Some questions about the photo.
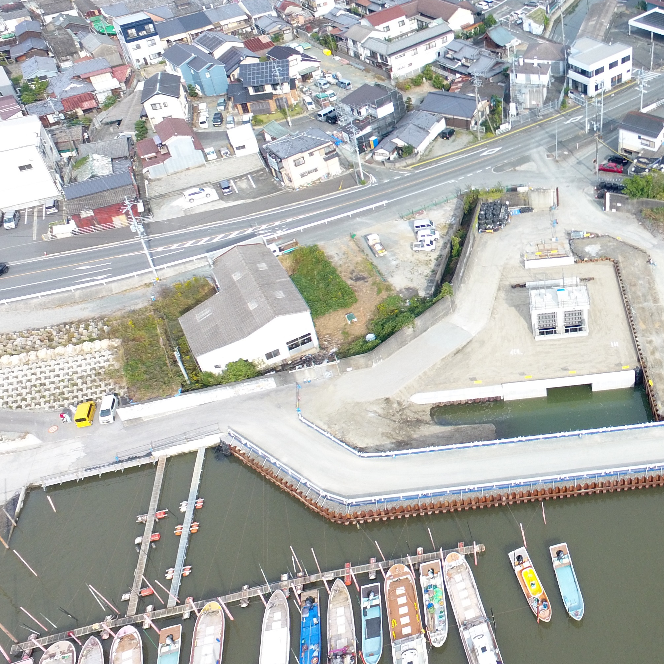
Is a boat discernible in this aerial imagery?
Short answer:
Yes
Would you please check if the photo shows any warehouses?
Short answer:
Yes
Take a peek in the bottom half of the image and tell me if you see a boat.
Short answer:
Yes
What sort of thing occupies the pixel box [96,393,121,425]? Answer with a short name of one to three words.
car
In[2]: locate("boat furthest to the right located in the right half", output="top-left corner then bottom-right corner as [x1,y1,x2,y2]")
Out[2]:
[550,542,583,624]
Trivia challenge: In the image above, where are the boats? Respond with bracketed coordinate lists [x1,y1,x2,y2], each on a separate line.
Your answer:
[509,548,548,626]
[383,561,429,664]
[325,575,361,664]
[422,560,446,651]
[156,624,183,664]
[299,589,321,664]
[550,542,583,624]
[37,636,80,664]
[444,549,501,664]
[188,599,230,664]
[361,583,383,664]
[107,622,149,664]
[80,633,107,664]
[259,588,294,664]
